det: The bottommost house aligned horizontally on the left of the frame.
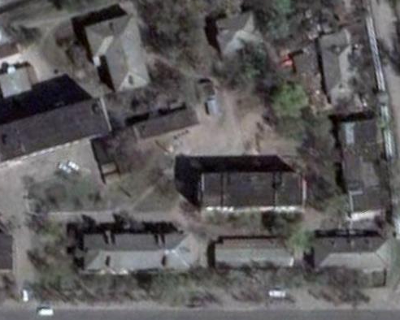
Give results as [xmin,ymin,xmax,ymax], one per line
[82,233,191,272]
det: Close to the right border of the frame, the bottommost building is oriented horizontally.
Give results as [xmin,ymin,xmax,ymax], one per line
[312,234,396,270]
